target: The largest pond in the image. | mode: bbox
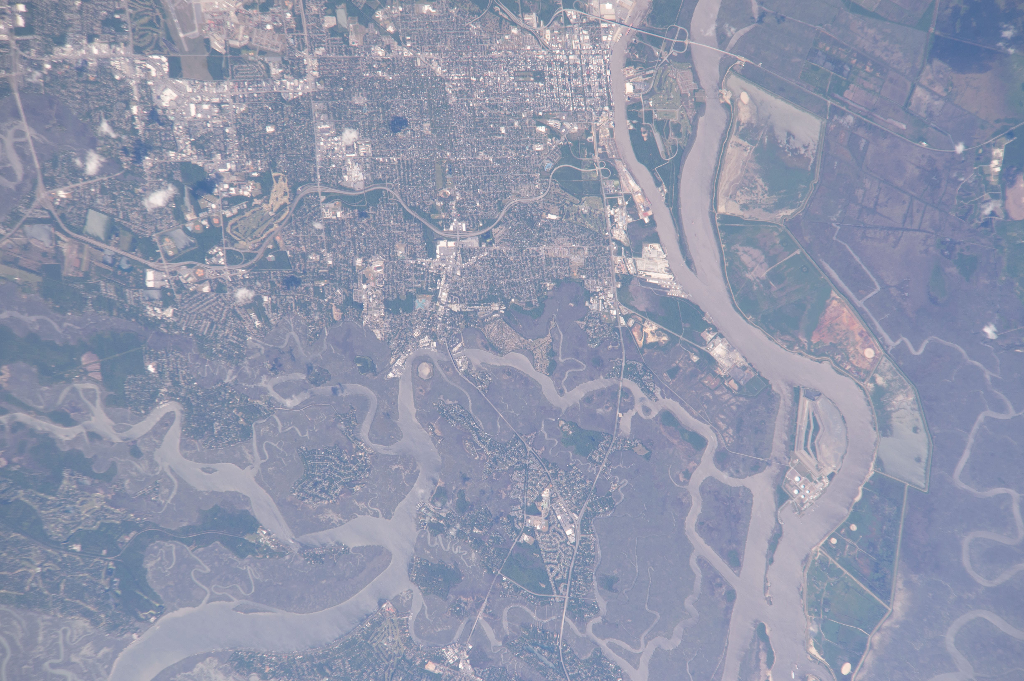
[877,410,928,488]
